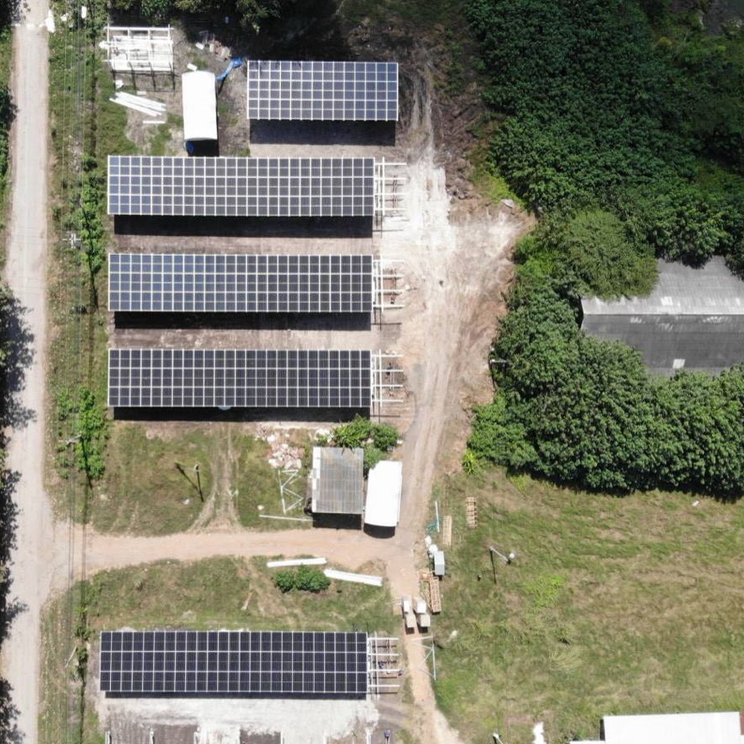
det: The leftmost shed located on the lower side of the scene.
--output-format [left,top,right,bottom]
[312,448,363,515]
